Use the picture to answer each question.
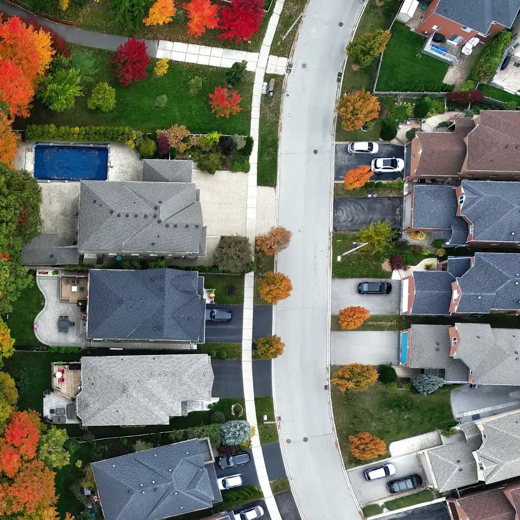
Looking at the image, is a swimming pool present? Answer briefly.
Yes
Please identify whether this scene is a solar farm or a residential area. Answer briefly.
residential area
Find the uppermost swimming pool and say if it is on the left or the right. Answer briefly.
left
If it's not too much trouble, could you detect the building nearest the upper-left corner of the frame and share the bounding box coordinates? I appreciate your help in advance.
[21,159,208,265]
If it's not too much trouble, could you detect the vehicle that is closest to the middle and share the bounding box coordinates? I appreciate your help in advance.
[206,306,237,323]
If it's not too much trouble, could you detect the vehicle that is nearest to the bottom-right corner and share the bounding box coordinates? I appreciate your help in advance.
[385,474,422,494]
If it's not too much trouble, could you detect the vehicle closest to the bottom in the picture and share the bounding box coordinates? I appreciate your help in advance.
[235,504,265,520]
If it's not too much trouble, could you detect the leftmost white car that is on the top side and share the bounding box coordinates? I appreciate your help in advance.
[346,139,378,156]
